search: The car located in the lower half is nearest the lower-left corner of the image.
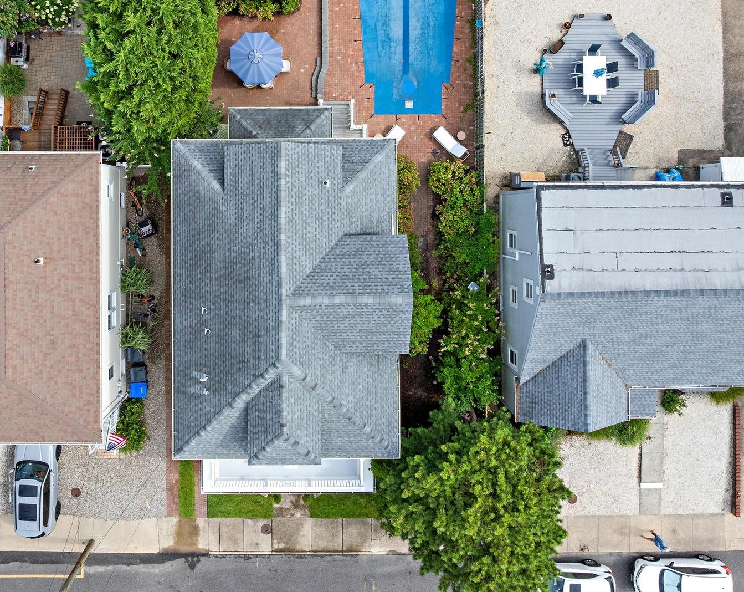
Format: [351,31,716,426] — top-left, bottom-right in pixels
[4,446,58,542]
